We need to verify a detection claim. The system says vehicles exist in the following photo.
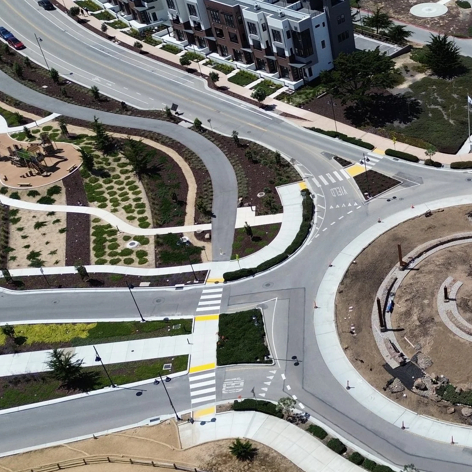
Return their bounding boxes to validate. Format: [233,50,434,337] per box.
[4,36,25,48]
[37,0,54,8]
[0,23,13,38]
